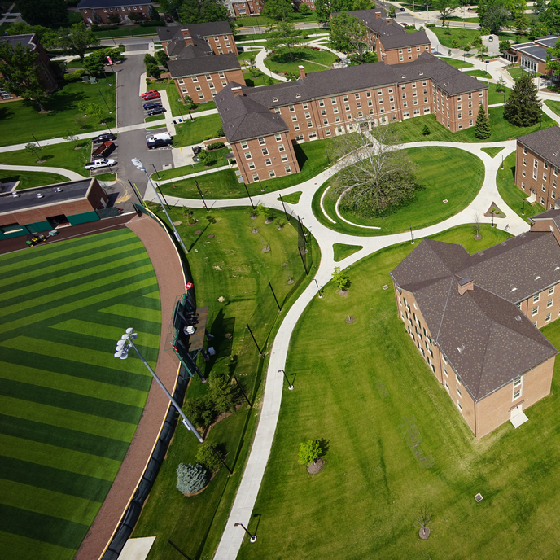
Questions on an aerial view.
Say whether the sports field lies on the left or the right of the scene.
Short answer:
left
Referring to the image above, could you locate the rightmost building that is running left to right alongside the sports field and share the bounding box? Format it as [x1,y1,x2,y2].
[212,51,490,188]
